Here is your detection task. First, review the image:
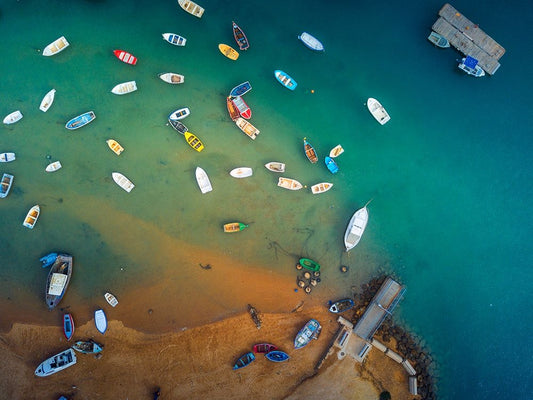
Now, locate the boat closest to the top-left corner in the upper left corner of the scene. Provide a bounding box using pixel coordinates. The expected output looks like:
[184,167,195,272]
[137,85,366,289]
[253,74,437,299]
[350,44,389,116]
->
[42,35,70,56]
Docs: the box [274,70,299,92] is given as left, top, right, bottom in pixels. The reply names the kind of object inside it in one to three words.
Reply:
boat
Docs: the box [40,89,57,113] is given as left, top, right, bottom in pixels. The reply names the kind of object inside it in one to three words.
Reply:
boat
